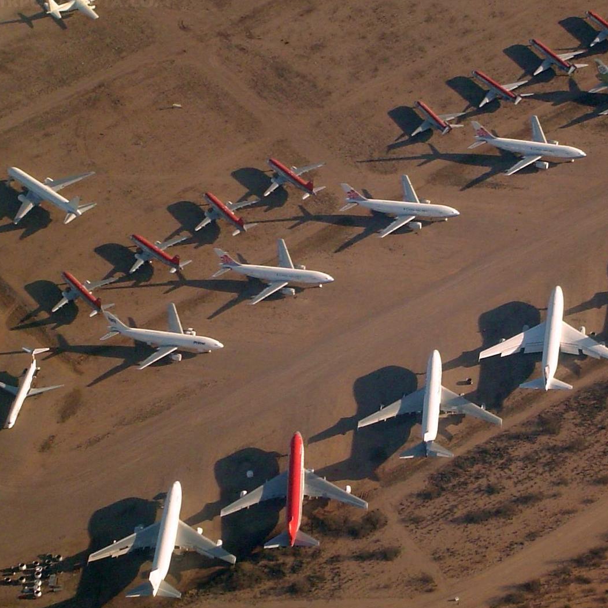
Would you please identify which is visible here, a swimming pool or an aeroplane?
aeroplane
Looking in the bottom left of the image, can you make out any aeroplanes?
Yes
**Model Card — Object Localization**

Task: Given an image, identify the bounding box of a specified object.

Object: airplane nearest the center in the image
[212,238,335,306]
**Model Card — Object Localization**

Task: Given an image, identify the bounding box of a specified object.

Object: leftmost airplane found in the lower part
[0,349,64,430]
